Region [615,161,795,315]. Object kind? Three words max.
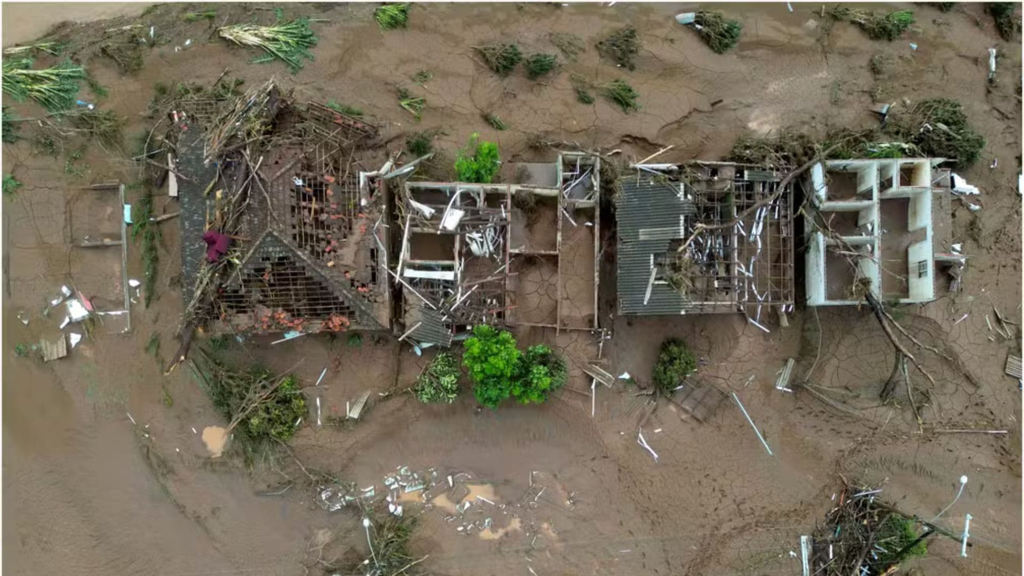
house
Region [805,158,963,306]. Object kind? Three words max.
house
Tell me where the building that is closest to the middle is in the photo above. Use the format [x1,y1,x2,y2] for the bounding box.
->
[403,153,600,332]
